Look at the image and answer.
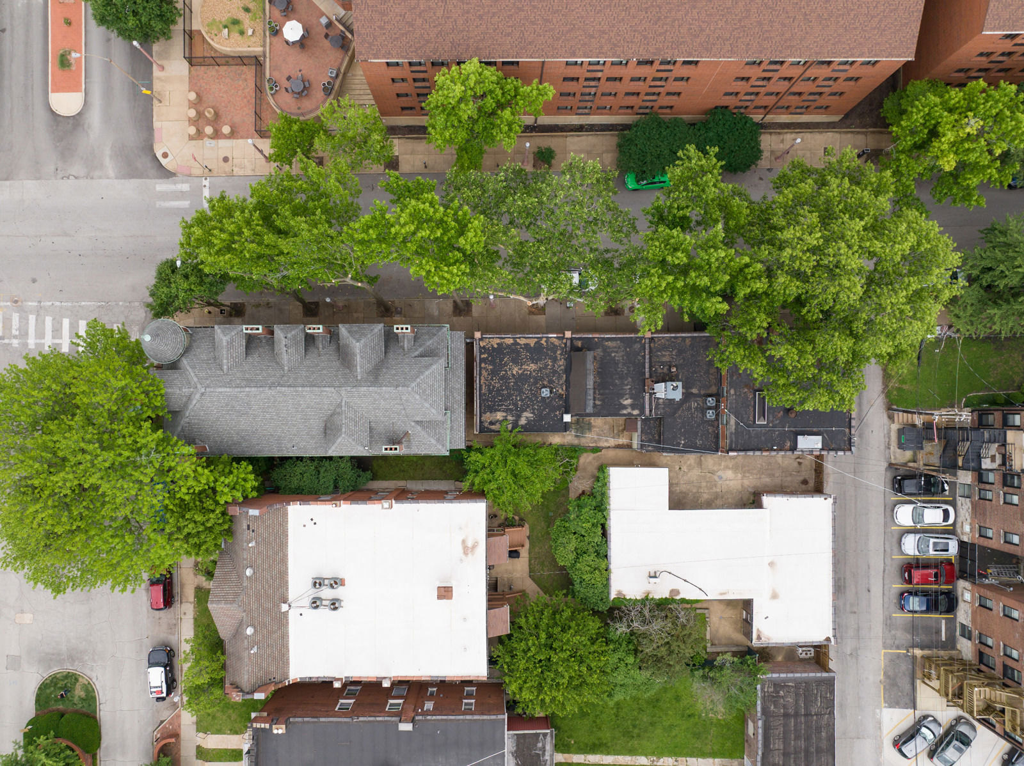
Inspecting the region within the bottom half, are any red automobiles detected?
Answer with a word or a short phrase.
Yes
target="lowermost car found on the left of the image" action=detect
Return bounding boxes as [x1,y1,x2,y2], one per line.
[146,644,178,702]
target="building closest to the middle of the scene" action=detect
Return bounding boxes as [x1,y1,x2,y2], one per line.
[473,331,572,435]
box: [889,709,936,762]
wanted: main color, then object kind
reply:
gray car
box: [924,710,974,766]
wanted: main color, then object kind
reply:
gray car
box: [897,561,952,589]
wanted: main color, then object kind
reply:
red car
